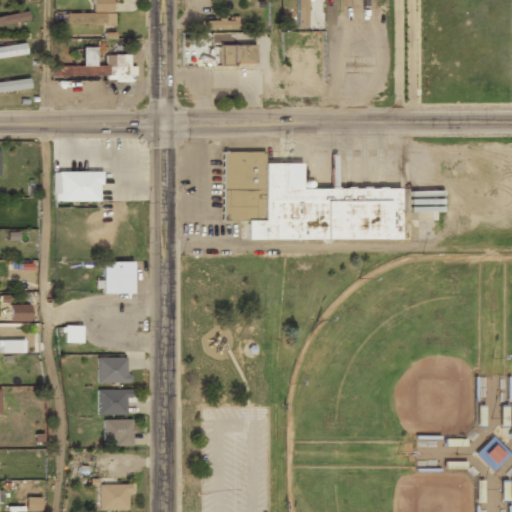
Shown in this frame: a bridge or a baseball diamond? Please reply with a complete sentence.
Of the two, only a baseball diamond appears.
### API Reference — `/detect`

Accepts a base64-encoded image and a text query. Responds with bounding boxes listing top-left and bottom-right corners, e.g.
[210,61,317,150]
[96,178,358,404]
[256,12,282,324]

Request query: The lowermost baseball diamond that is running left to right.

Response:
[294,468,478,512]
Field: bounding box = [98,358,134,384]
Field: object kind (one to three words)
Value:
house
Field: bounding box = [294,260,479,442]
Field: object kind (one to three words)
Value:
baseball field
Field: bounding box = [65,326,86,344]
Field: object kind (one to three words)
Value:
building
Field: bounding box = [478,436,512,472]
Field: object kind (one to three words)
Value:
building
